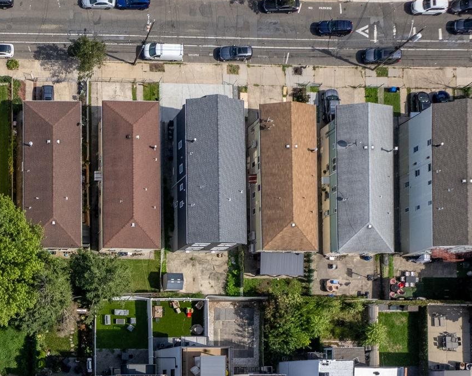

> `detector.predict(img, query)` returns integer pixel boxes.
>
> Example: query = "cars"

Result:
[321,90,342,119]
[411,0,448,15]
[364,46,400,65]
[412,92,431,117]
[0,44,15,60]
[432,88,451,103]
[449,0,472,15]
[218,44,253,63]
[316,18,354,36]
[452,18,472,36]
[81,0,114,11]
[115,0,149,11]
[40,82,56,102]
[261,0,296,14]
[0,0,11,10]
